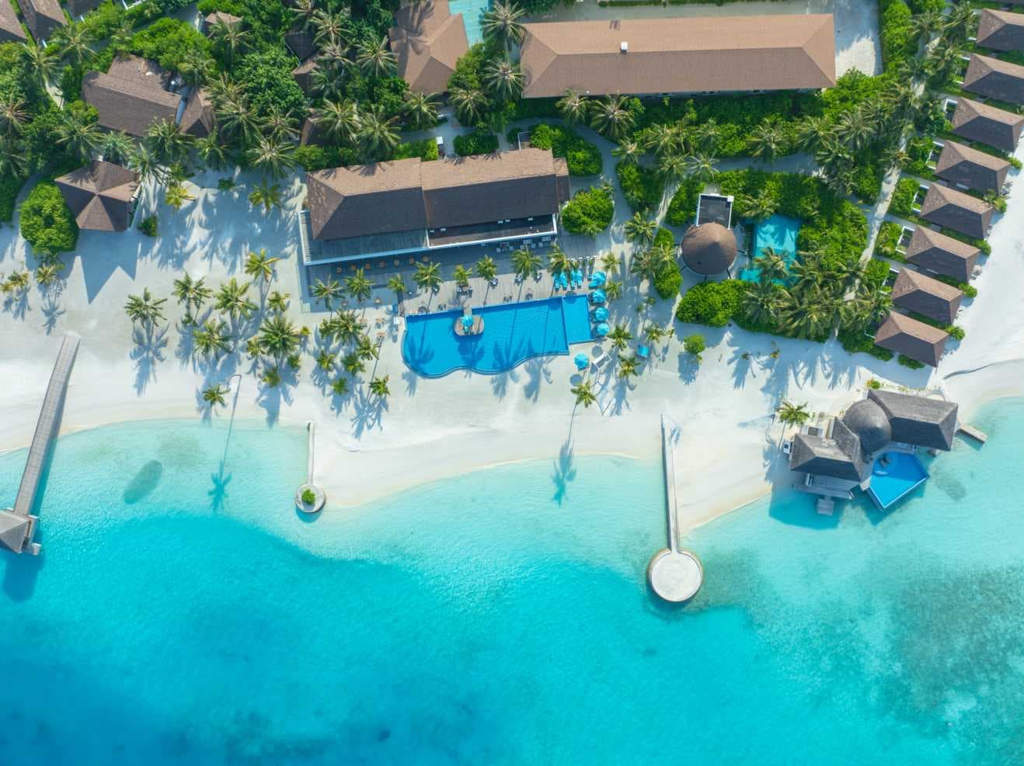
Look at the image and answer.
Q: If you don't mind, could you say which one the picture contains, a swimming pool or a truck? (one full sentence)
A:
The one in the frame is a swimming pool.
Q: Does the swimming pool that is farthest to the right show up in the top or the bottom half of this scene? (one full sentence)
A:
It is in the top half that the swimming pool that is farthest to the right appears.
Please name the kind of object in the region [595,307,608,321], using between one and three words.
umbrella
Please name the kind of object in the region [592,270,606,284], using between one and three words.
umbrella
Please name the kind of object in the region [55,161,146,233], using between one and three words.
shed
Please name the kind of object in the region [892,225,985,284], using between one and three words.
house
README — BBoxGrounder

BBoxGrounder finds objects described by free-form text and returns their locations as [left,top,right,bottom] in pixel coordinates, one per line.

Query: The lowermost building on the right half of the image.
[782,384,959,515]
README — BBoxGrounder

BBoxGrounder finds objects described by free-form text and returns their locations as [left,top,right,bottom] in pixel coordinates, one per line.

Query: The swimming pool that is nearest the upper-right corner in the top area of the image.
[739,213,799,288]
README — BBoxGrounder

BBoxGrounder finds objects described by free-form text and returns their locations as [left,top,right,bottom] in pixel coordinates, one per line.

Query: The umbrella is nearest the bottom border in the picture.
[574,354,588,369]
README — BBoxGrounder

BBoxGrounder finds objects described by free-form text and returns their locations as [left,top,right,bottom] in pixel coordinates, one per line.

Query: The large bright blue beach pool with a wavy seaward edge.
[397,295,590,382]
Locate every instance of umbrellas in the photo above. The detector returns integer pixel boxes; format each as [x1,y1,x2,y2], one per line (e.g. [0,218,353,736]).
[462,315,473,327]
[595,307,608,321]
[592,289,606,303]
[570,269,582,281]
[597,323,609,335]
[555,271,567,283]
[574,354,588,369]
[592,270,606,284]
